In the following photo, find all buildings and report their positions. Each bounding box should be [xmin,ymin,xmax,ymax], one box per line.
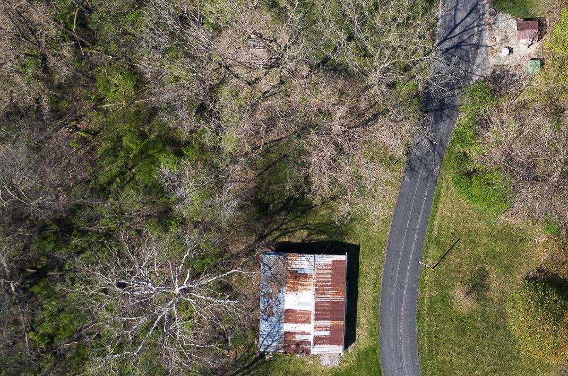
[516,17,538,38]
[258,253,350,357]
